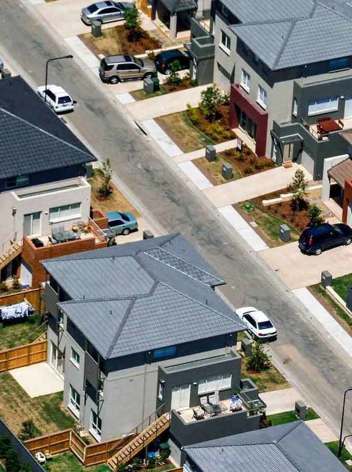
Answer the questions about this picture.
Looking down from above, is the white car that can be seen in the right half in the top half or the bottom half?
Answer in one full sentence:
The white car that can be seen in the right half sits in the bottom half of the picture.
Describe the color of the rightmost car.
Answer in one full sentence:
The color of the rightmost car is black.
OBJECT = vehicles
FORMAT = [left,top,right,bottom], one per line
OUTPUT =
[100,55,154,84]
[236,307,277,344]
[80,1,129,26]
[37,85,75,117]
[85,210,143,236]
[299,225,352,254]
[151,51,199,76]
